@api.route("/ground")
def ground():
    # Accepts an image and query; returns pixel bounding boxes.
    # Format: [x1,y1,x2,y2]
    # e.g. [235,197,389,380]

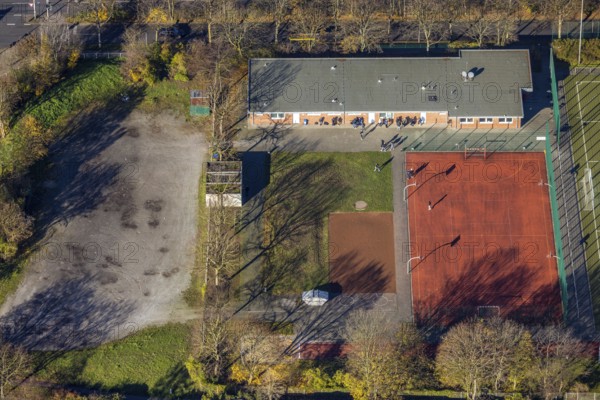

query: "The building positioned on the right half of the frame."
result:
[247,49,534,130]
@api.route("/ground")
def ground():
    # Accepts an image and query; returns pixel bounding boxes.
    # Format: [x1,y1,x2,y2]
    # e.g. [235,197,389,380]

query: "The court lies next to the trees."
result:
[406,151,565,330]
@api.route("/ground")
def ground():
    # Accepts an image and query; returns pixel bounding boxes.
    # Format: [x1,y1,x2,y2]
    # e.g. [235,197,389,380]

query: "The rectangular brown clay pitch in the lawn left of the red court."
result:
[329,212,396,293]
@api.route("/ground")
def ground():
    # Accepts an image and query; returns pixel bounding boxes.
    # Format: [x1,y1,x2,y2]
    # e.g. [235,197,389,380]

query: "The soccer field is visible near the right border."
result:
[565,79,600,363]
